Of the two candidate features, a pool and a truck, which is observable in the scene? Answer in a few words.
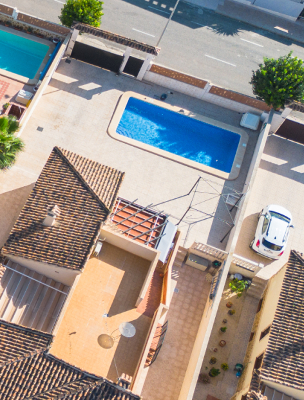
pool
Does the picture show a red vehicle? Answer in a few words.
No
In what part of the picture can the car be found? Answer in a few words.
right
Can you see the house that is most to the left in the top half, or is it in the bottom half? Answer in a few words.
bottom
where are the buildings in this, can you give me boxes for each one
[241,248,304,400]
[0,144,185,400]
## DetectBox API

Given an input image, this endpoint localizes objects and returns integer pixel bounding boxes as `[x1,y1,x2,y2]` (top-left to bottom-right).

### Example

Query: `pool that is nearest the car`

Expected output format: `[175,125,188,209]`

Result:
[105,90,249,180]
